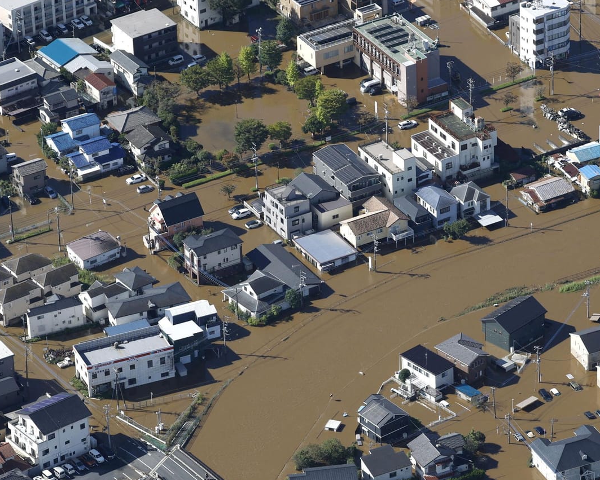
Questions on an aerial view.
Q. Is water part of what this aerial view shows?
Yes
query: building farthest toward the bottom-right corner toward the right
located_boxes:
[533,427,600,480]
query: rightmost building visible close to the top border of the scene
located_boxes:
[518,0,571,67]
